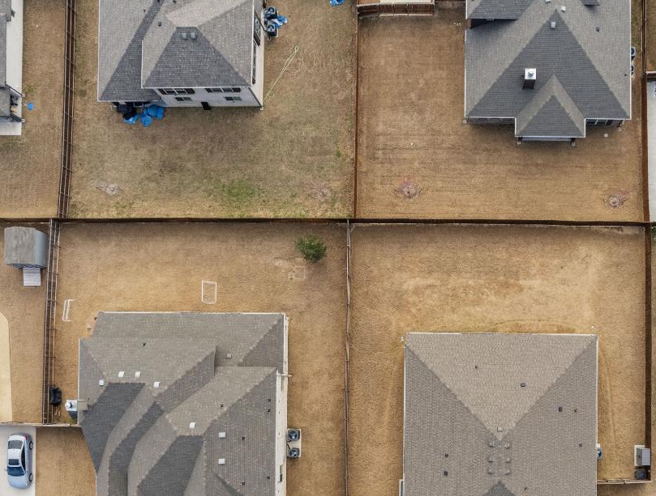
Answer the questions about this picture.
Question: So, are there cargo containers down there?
No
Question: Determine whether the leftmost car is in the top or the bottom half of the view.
bottom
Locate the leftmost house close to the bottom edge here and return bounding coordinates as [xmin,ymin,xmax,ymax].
[64,311,291,496]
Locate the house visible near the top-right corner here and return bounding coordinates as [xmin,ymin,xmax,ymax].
[463,0,632,145]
